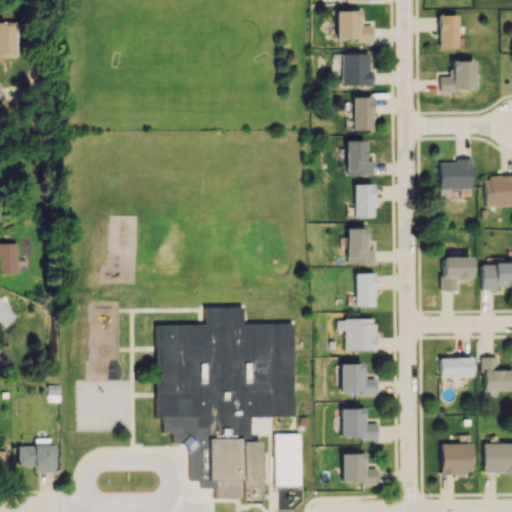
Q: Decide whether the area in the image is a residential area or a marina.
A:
residential area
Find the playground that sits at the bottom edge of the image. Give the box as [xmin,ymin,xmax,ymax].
[279,488,304,510]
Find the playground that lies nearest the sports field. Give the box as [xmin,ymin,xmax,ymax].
[101,216,138,284]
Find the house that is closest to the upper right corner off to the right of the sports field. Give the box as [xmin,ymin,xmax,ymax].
[440,15,462,49]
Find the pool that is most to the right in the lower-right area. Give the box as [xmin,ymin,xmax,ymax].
[442,388,456,403]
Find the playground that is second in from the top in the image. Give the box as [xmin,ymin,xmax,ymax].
[86,301,121,380]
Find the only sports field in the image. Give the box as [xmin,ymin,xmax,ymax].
[80,0,300,127]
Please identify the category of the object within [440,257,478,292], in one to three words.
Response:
house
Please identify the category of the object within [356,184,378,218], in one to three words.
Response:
house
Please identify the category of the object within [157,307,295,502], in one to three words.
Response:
building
